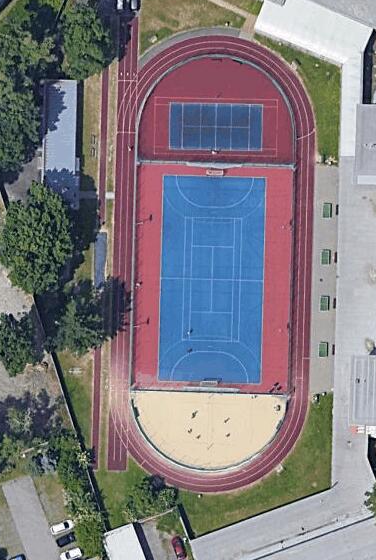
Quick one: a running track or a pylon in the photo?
running track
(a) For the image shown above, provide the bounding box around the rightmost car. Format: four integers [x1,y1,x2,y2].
[172,536,187,559]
